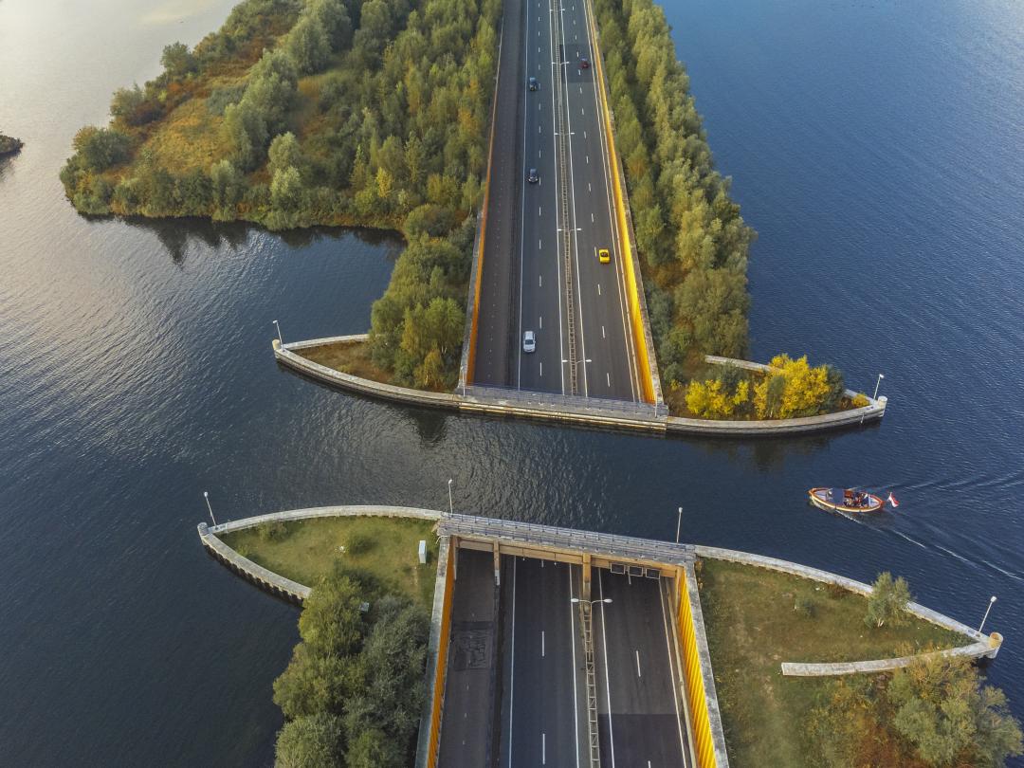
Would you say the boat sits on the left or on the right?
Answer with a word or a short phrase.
right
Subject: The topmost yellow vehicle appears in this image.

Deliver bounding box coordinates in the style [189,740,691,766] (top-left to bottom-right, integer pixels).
[598,248,610,262]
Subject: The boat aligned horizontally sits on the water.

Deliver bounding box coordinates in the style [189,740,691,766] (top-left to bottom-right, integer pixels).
[809,485,900,508]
